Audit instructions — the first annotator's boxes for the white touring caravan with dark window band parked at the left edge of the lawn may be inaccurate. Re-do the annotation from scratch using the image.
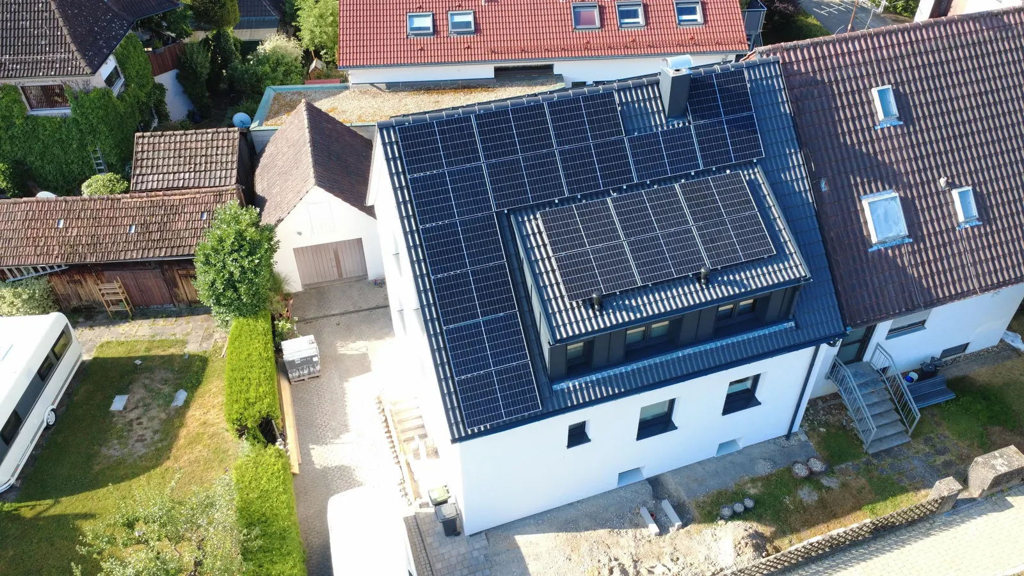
[0,311,85,497]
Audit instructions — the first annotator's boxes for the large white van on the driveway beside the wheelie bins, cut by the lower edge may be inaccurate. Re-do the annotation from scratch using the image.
[327,488,424,576]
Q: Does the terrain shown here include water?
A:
No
